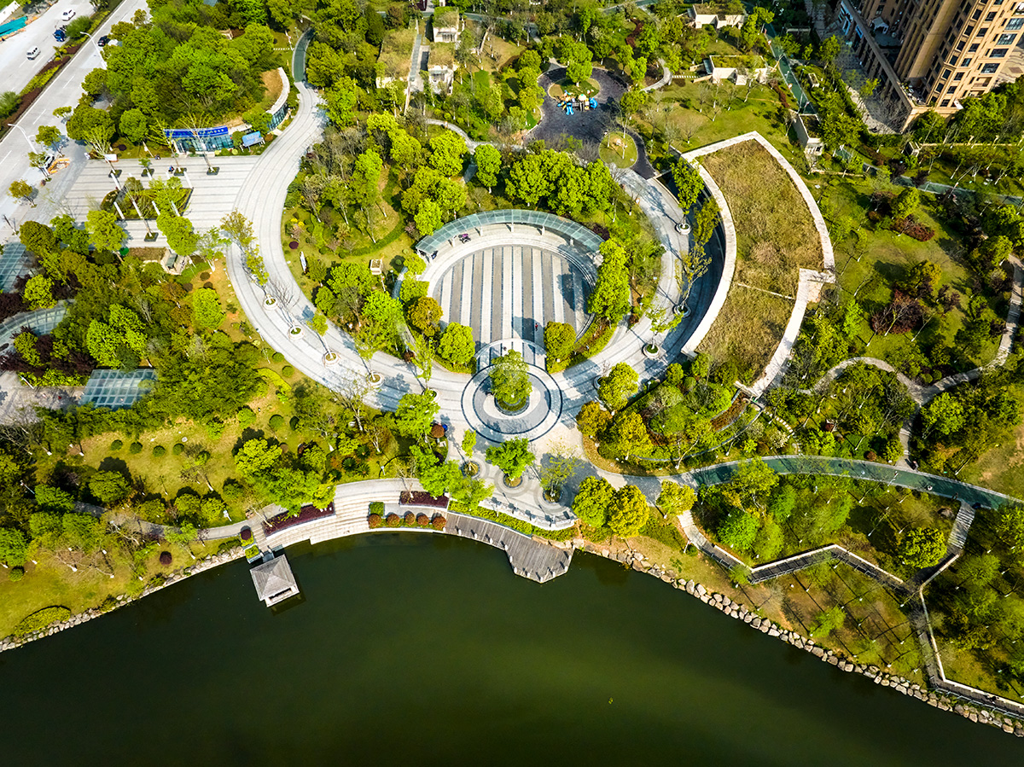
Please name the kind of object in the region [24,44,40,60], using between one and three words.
vehicle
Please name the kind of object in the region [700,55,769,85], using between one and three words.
house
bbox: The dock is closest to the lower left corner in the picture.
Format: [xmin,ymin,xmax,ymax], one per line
[446,514,575,585]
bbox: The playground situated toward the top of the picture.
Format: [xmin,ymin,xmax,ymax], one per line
[523,67,656,179]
